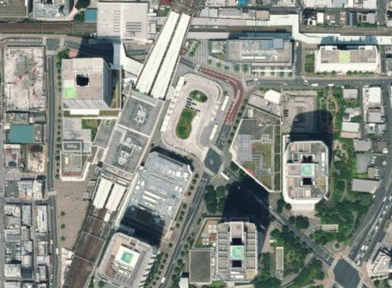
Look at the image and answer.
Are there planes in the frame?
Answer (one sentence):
No, the frame has no plane in it.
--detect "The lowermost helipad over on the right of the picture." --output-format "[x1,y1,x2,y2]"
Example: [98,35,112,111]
[231,246,244,259]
